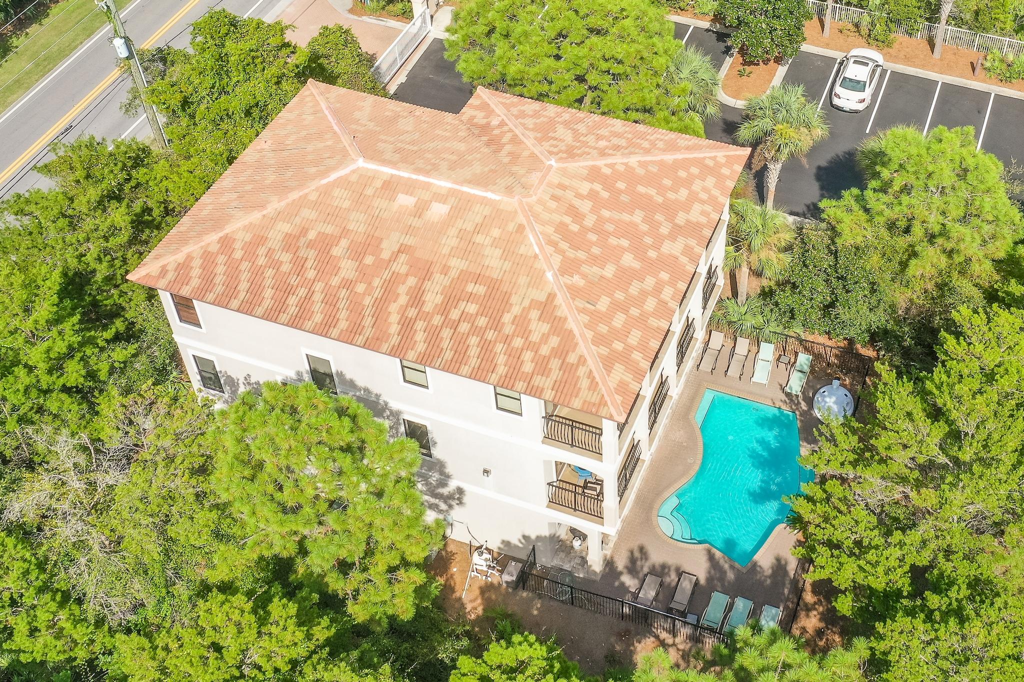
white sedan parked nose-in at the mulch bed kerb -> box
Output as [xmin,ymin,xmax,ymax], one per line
[827,51,884,118]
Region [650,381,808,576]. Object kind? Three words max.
swimming pool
